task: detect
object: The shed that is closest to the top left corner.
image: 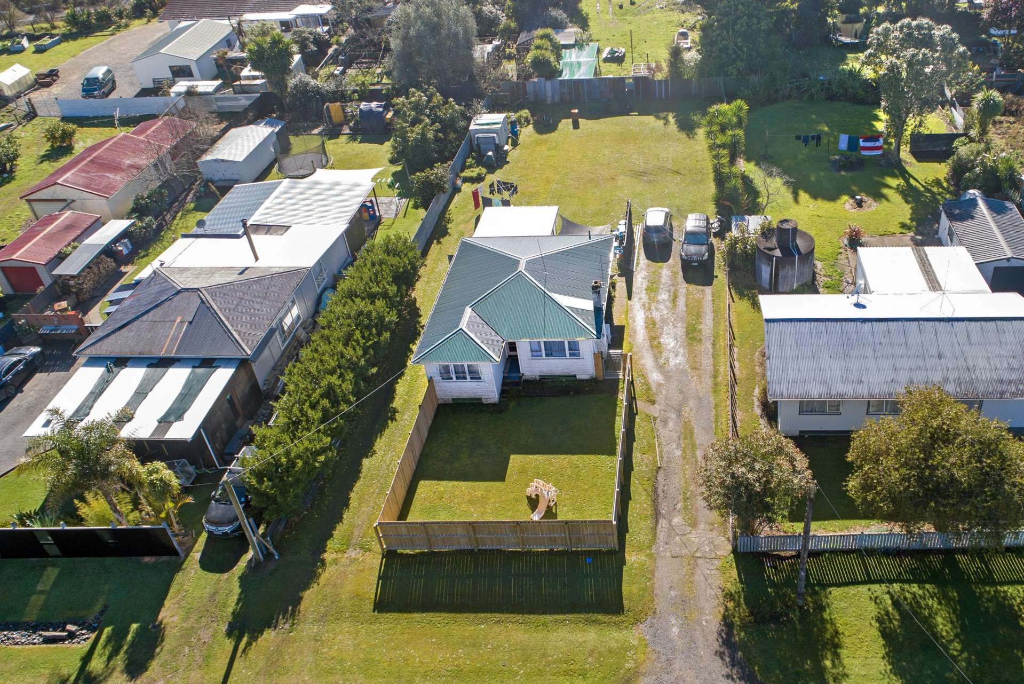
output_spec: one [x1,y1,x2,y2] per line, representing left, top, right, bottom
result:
[0,61,46,106]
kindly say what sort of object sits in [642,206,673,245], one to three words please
car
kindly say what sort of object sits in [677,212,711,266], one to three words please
car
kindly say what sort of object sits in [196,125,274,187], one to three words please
shed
